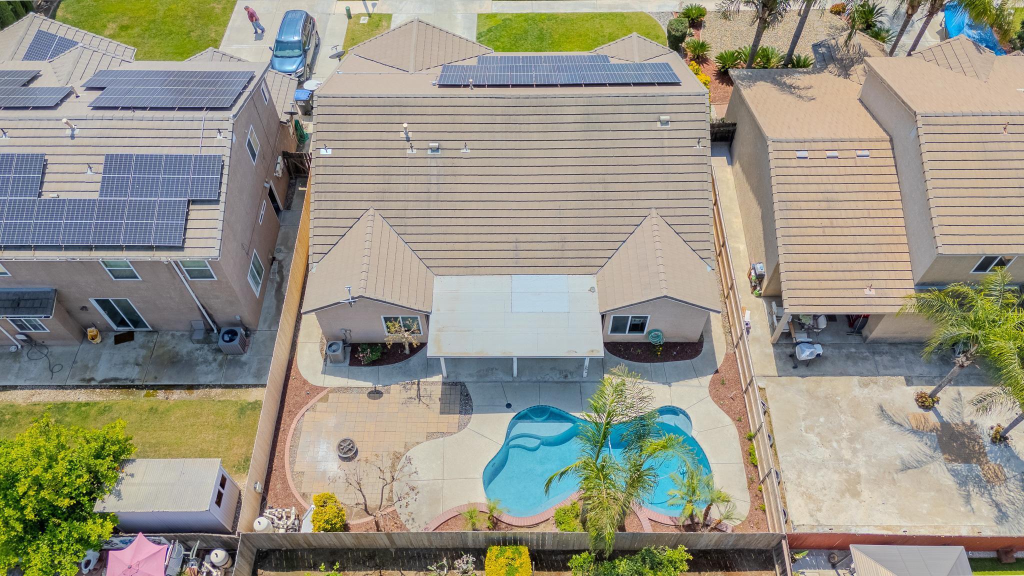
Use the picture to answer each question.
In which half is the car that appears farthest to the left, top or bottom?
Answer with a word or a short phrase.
top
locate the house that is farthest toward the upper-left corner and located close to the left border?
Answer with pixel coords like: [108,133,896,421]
[0,10,304,349]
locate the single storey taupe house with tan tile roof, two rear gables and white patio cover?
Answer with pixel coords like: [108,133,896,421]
[300,17,724,378]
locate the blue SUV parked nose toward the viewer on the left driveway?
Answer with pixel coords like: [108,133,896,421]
[271,15,319,85]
